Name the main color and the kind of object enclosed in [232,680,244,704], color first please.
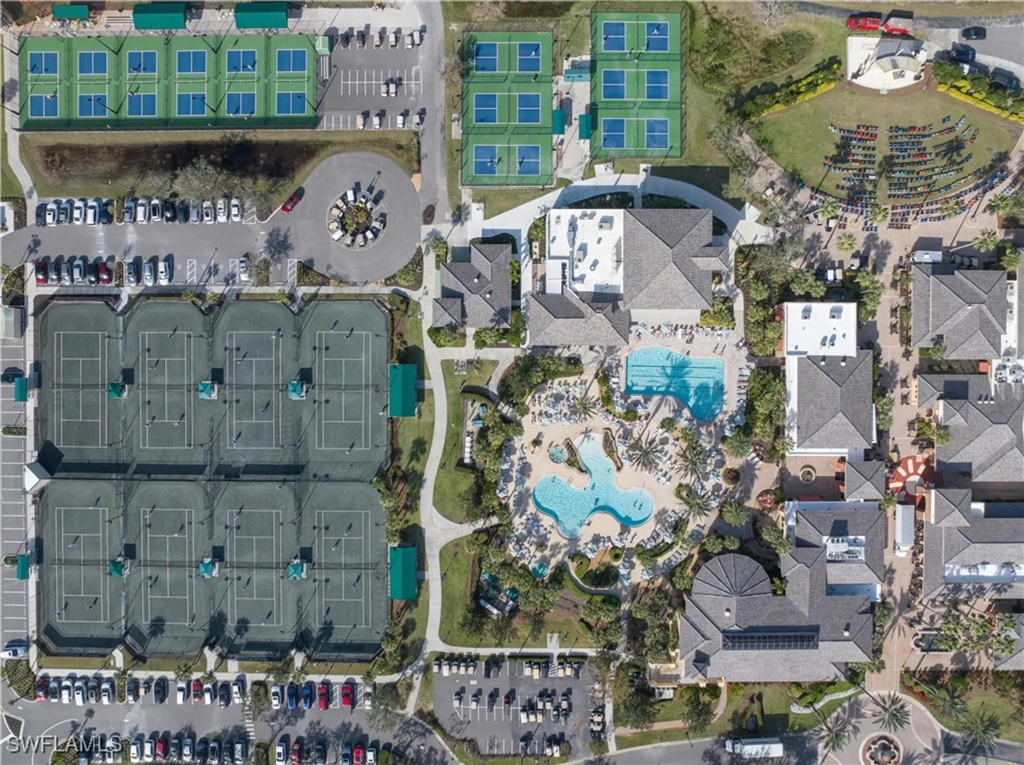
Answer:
white vehicle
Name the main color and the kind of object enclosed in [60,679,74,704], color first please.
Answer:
white car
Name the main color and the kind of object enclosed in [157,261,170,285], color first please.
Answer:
white vehicle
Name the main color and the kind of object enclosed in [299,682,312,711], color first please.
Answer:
blue vehicle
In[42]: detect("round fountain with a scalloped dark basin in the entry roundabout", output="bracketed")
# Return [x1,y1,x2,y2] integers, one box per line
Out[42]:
[860,732,905,765]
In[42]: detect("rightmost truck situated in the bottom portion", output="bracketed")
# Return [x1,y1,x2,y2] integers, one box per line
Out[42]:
[892,504,915,556]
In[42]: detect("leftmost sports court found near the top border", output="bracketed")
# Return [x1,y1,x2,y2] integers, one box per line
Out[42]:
[19,35,68,125]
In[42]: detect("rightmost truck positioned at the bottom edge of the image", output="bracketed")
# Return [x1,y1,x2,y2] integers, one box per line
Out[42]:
[723,735,785,759]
